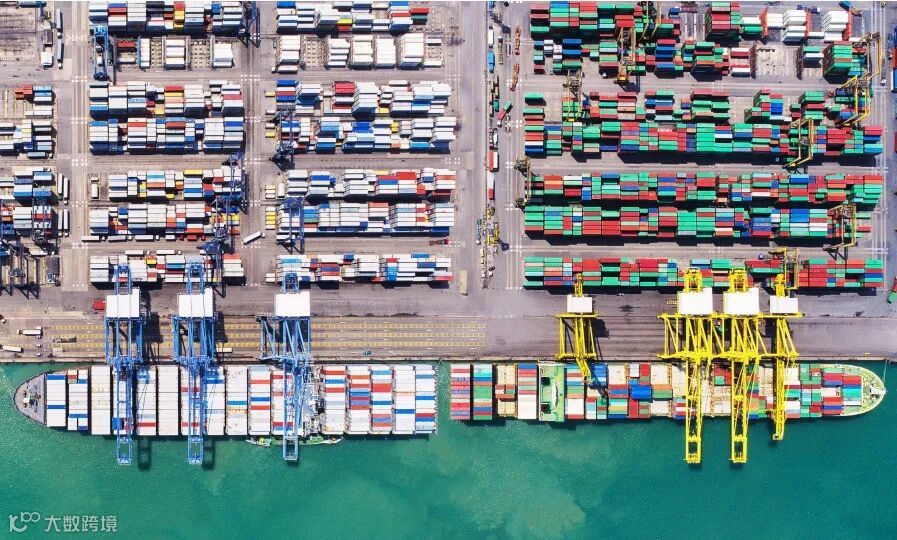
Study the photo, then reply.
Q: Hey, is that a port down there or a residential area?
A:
port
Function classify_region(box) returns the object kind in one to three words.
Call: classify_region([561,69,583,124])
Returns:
crane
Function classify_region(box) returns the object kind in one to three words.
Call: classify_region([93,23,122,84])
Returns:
crane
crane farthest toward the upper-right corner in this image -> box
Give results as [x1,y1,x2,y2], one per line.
[853,30,883,83]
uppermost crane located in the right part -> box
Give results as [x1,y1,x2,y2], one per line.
[636,0,661,43]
